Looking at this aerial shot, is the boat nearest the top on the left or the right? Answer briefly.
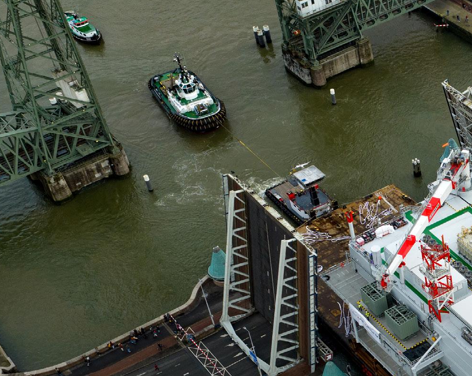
left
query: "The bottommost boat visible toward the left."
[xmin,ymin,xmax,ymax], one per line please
[146,53,231,133]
